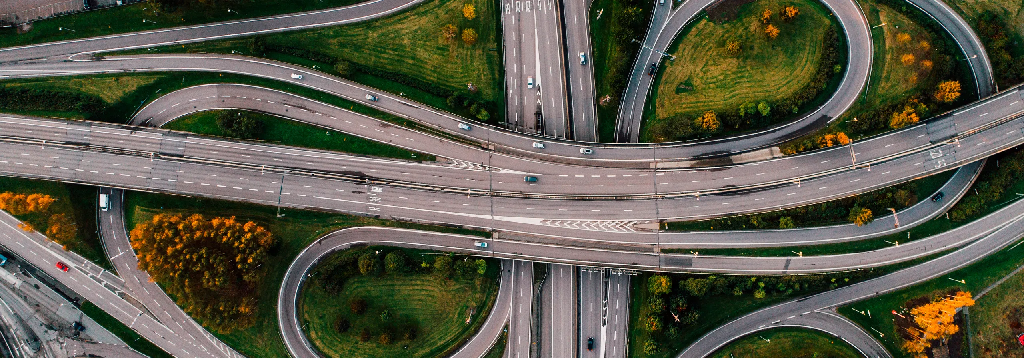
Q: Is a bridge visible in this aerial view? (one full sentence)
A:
Yes, looking at the shot, I can spot a bridge.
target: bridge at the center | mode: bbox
[432,107,660,272]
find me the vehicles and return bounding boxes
[291,73,302,79]
[931,192,943,202]
[82,0,90,10]
[458,123,471,130]
[524,176,538,182]
[648,62,656,76]
[0,254,9,264]
[588,338,593,351]
[365,94,378,102]
[532,142,545,149]
[527,76,533,88]
[579,52,585,65]
[55,262,69,272]
[580,148,593,154]
[72,322,86,331]
[99,194,109,210]
[473,241,488,247]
